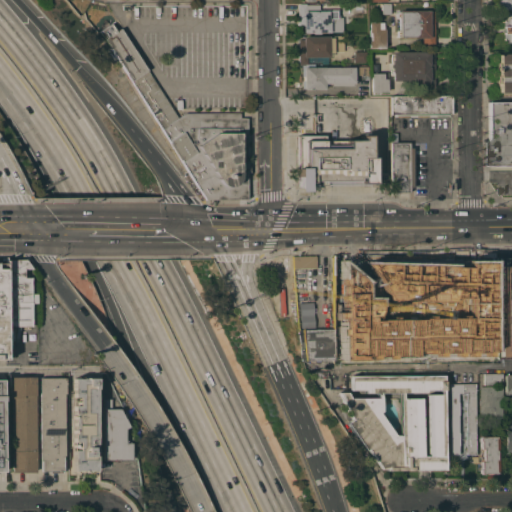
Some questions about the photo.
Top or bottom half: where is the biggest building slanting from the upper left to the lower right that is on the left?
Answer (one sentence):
The biggest building slanting from the upper left to the lower right that is on the left sits in the top half of the picture.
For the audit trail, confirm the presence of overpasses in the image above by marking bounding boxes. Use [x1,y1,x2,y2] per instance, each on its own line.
[34,196,217,262]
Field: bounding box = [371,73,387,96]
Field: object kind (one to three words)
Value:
house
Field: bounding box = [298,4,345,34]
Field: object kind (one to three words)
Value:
house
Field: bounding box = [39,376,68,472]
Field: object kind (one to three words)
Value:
building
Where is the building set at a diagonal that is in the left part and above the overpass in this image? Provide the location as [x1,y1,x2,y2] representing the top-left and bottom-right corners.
[104,24,249,204]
